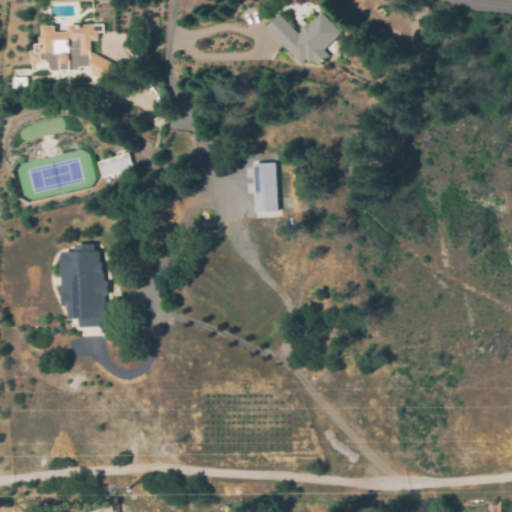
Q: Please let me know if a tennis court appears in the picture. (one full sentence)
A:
Yes, the picture does show a tennis court.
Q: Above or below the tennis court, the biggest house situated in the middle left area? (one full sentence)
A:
The position of the biggest house situated in the middle left area is below the tennis court.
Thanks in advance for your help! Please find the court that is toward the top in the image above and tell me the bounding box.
[19,150,97,200]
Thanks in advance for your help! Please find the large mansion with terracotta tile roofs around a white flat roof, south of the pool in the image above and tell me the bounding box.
[29,23,112,76]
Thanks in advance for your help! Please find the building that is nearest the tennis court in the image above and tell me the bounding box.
[98,154,132,176]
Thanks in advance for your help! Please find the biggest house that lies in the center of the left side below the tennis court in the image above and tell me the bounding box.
[60,244,107,326]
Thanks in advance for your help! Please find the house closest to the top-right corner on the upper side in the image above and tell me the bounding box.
[266,13,339,62]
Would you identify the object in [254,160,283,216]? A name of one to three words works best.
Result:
barn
